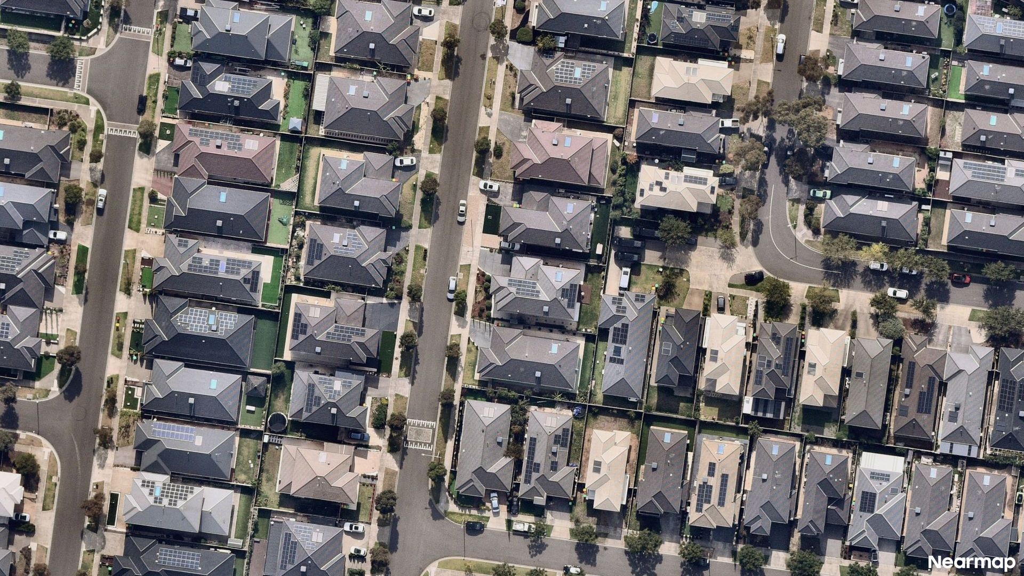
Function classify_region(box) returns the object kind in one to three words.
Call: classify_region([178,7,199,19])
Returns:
vehicle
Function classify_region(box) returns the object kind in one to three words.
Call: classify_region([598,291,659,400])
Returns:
house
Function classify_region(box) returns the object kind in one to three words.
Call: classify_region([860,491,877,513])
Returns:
solar array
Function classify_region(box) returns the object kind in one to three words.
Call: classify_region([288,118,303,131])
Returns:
gazebo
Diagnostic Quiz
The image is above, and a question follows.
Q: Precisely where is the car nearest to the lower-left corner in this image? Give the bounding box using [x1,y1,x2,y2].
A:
[11,511,33,523]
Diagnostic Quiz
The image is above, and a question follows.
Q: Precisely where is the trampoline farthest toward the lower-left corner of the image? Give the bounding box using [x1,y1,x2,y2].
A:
[268,412,287,431]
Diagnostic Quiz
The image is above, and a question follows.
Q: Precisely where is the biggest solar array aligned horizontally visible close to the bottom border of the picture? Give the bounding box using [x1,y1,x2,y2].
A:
[157,548,203,569]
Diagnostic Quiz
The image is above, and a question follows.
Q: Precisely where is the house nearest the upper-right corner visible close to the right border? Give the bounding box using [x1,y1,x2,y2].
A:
[965,13,1024,54]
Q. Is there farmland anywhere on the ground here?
No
